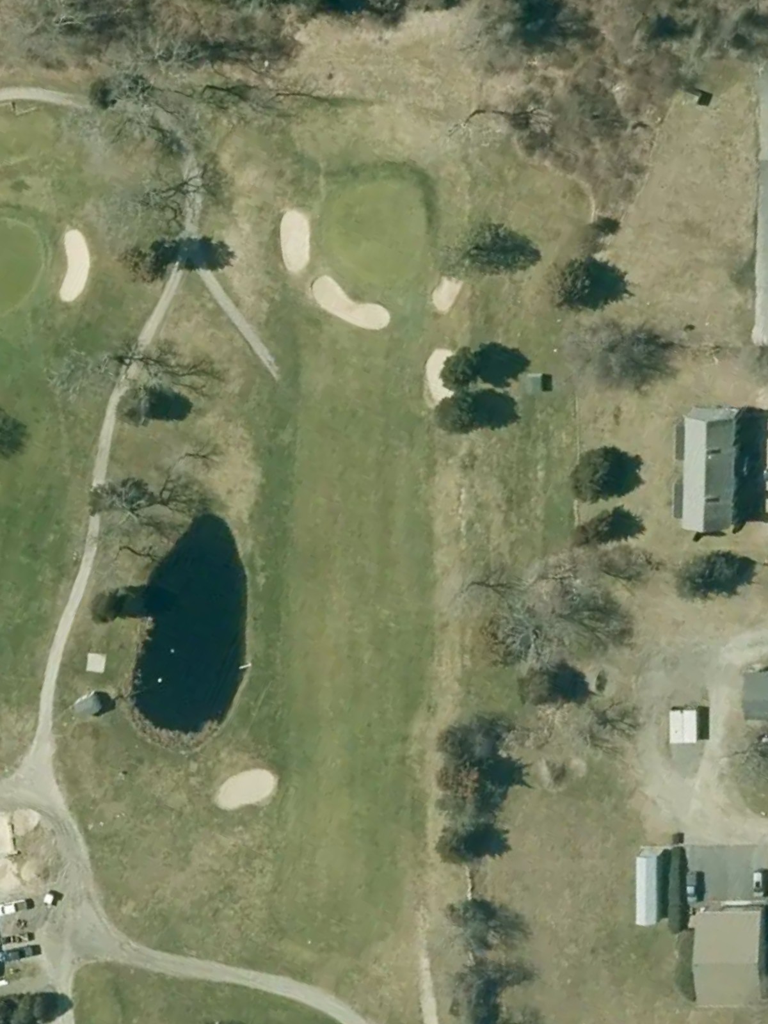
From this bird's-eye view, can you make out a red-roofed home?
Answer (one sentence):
No, no red-roofed home is visible in the scene.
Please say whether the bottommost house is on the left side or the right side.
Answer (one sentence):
You can find the bottommost house on the right side of the picture.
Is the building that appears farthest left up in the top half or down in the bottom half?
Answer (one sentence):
The building that appears farthest left is in the bottom half of the image.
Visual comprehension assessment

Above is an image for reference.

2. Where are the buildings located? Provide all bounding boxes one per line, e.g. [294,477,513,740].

[525,372,544,391]
[741,665,768,719]
[670,705,699,744]
[685,87,703,103]
[688,904,767,1006]
[637,850,662,927]
[674,410,742,535]
[72,686,108,717]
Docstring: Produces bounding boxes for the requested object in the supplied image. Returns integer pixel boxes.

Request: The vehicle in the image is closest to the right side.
[753,868,765,894]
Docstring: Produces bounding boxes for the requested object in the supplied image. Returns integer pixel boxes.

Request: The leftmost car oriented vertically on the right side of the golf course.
[686,872,698,898]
